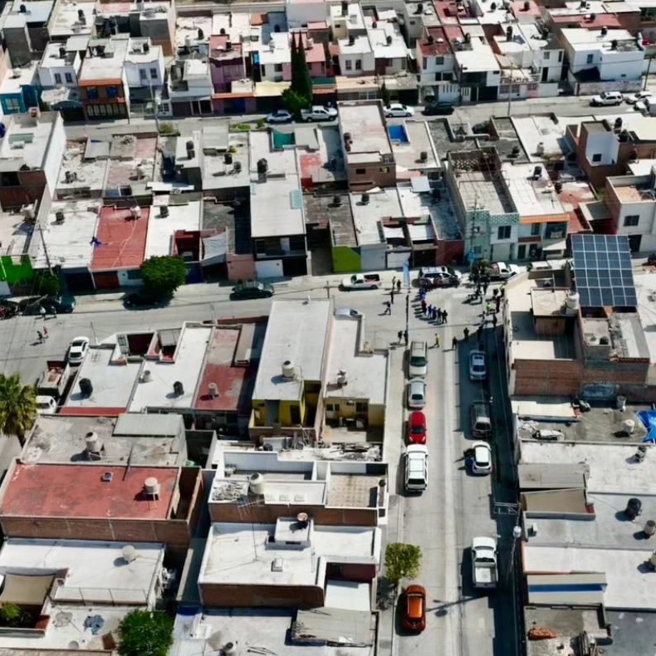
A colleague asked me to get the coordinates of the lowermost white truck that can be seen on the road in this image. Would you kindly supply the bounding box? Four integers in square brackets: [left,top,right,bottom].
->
[470,536,497,592]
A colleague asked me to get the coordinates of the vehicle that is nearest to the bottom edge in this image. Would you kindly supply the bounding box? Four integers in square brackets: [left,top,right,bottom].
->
[402,586,426,634]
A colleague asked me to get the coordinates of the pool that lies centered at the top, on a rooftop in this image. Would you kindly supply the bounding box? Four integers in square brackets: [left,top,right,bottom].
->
[389,131,404,144]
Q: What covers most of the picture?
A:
buildings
